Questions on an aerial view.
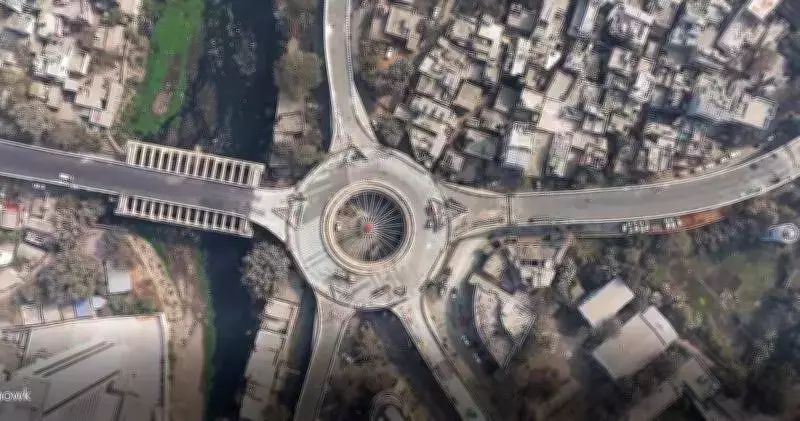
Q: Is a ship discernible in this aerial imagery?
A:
No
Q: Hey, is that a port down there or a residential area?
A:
residential area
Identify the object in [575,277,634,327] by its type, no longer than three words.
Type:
building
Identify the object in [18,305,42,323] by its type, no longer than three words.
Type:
house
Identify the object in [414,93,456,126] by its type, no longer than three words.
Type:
house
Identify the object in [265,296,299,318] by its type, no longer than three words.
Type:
shed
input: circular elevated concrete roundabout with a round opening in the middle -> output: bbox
[286,145,450,310]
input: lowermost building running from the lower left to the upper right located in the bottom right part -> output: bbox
[619,378,685,421]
